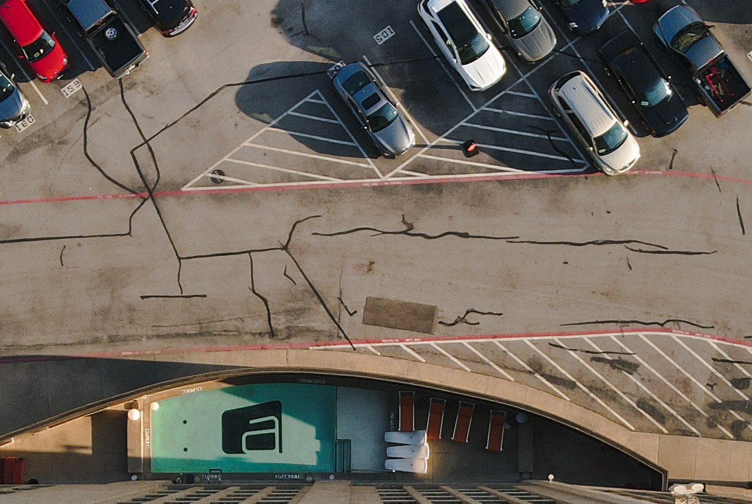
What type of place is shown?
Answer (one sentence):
This image shows a parking lot.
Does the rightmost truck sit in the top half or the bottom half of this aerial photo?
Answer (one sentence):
You can find the rightmost truck in the top half.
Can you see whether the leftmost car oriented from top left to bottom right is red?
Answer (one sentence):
Yes, red is the color of the leftmost car oriented from top left to bottom right.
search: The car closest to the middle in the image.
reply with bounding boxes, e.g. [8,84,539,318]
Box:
[331,59,414,163]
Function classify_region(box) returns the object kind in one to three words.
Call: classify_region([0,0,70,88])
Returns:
car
